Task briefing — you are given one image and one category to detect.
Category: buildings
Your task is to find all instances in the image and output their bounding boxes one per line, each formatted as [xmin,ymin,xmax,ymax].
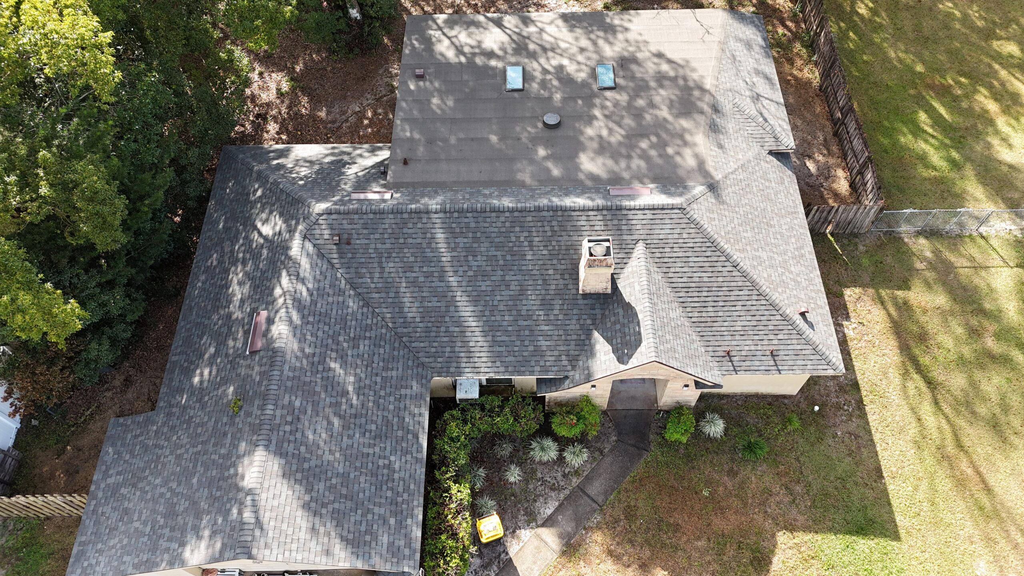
[67,8,845,576]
